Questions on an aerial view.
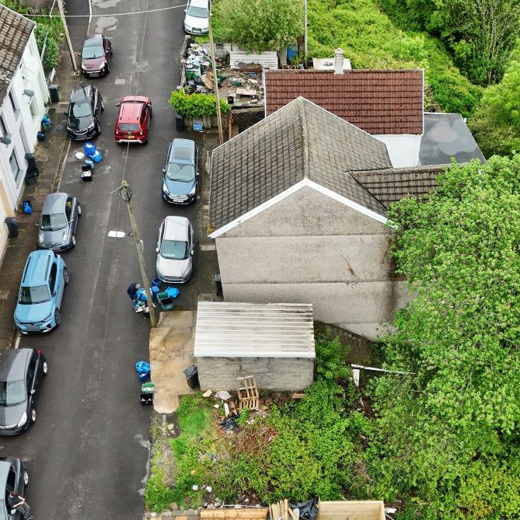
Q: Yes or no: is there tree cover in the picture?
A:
Yes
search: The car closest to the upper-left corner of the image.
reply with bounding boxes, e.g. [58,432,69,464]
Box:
[80,37,114,77]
